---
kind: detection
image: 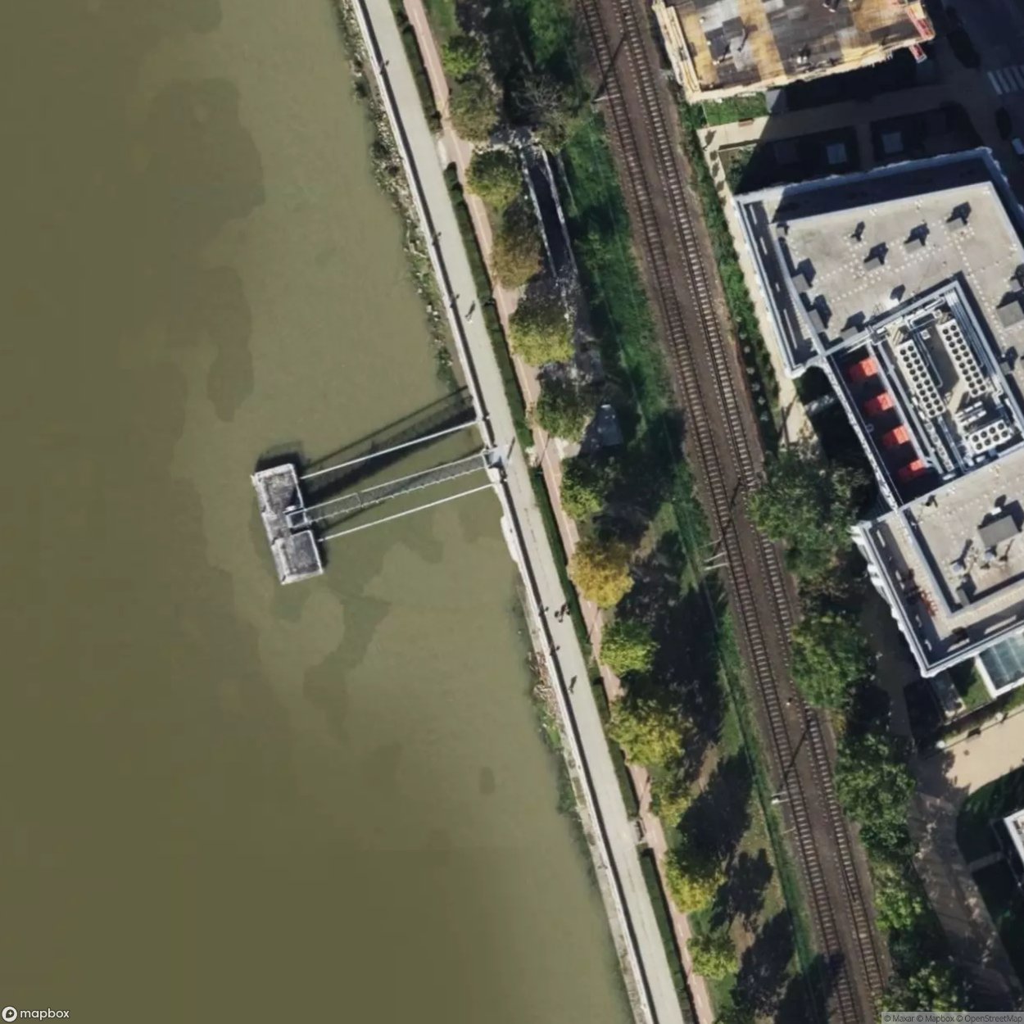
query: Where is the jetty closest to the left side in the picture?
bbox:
[253,461,325,585]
